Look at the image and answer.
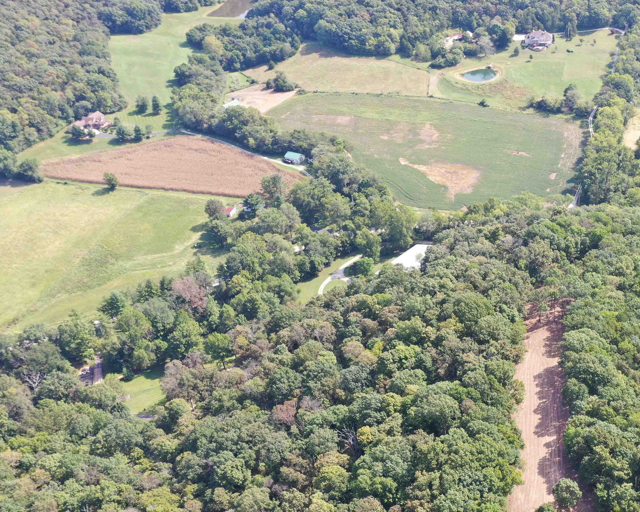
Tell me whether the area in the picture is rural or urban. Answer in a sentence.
It looks rural.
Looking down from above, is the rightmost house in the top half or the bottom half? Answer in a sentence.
The rightmost house is in the top half of the image.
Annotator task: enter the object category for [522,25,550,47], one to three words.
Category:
house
